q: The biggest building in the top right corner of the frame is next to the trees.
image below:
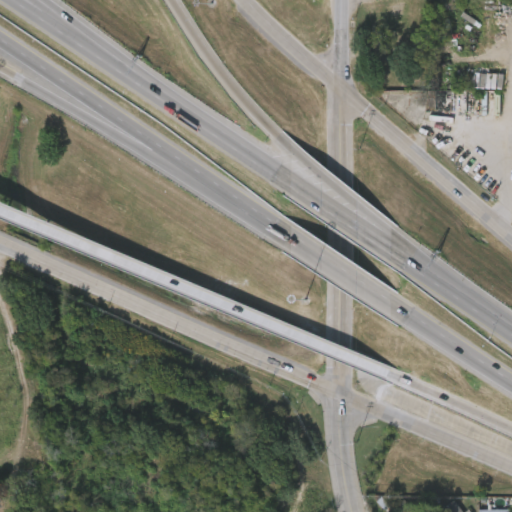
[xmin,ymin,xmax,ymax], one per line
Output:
[476,74,506,90]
